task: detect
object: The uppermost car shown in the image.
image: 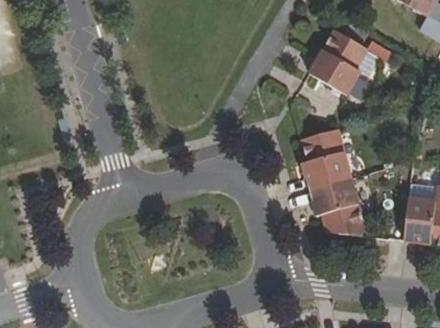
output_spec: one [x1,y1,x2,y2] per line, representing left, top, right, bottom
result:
[288,182,306,194]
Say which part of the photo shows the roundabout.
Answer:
bottom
